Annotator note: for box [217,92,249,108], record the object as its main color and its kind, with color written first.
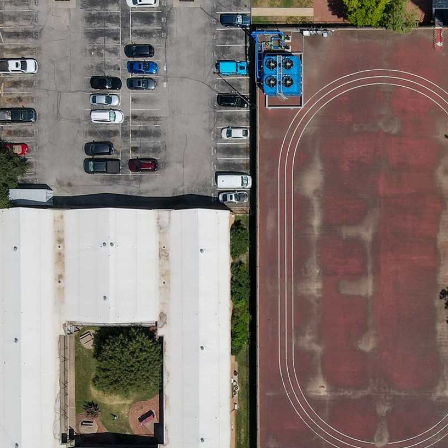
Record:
black car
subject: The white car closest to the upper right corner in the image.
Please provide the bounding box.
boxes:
[222,125,250,139]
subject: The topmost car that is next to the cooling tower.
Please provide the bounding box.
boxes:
[220,12,251,27]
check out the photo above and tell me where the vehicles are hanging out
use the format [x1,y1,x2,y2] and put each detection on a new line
[217,92,249,108]
[85,141,114,156]
[0,107,37,123]
[91,92,122,107]
[91,108,125,124]
[127,0,160,9]
[85,158,123,173]
[222,125,250,139]
[130,159,159,172]
[0,56,40,74]
[220,12,251,27]
[126,77,157,91]
[220,191,249,204]
[4,142,30,155]
[125,43,155,58]
[215,172,253,188]
[91,76,123,90]
[216,60,249,75]
[127,59,158,75]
